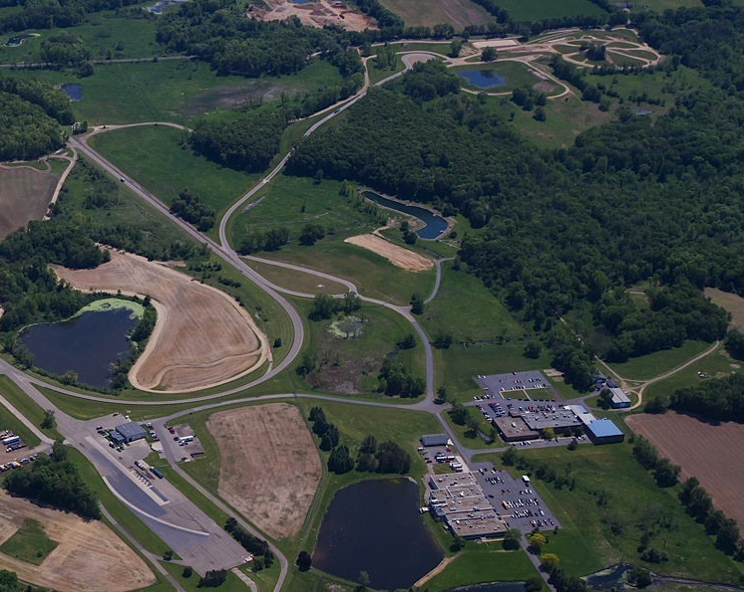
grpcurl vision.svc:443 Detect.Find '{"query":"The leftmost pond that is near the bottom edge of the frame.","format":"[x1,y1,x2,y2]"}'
[313,478,443,590]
